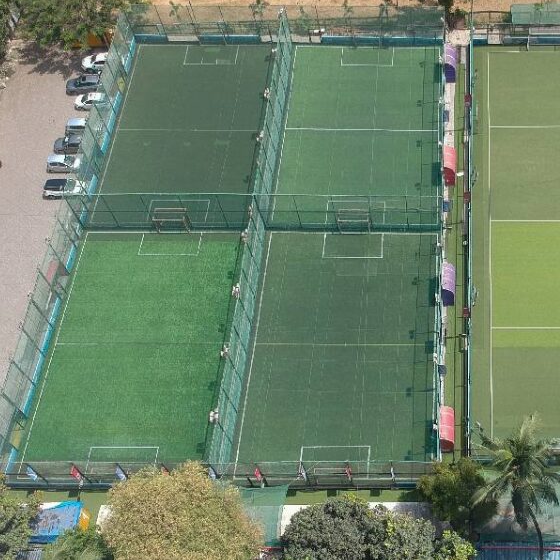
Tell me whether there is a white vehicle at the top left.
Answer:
Yes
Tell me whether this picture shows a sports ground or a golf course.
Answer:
sports ground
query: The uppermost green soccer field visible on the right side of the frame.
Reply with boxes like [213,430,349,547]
[266,41,442,230]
